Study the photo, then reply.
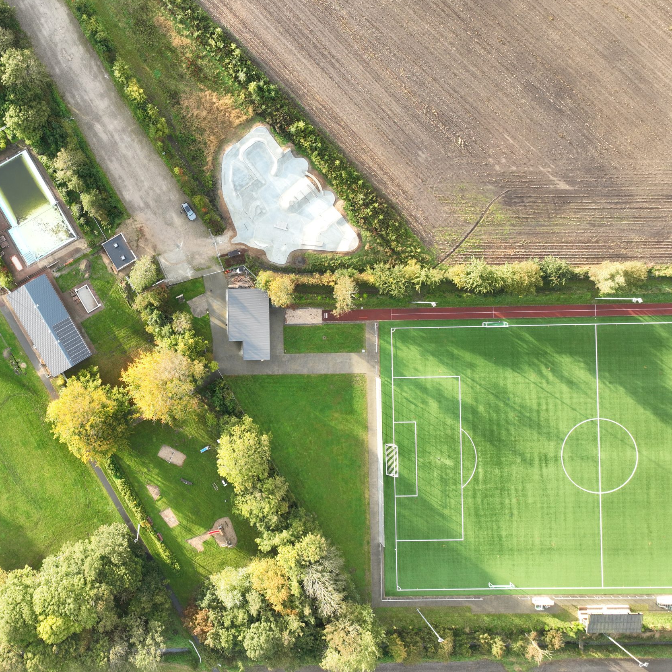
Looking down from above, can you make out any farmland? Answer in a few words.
Yes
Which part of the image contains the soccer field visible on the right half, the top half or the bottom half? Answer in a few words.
bottom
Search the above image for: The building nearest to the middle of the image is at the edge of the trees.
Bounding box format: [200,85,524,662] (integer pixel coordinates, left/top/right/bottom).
[226,289,270,362]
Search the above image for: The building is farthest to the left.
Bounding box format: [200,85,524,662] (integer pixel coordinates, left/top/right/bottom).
[6,274,94,377]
